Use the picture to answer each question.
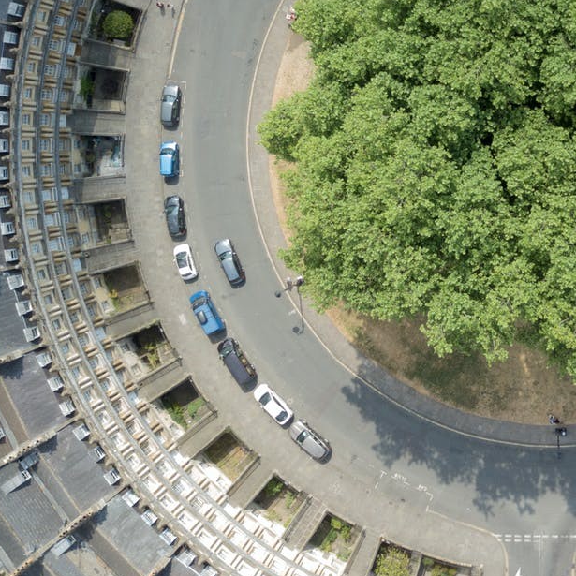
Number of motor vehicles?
9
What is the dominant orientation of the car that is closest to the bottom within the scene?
diagonally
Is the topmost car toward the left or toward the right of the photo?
left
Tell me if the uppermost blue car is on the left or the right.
left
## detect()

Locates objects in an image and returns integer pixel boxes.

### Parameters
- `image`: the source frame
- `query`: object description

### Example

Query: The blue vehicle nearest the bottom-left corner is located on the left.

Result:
[190,290,225,337]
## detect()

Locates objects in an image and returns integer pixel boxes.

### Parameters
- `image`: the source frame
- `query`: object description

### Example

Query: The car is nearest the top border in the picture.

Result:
[159,82,183,126]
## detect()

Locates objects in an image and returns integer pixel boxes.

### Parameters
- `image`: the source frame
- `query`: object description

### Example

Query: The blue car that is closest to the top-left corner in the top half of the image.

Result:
[157,140,180,179]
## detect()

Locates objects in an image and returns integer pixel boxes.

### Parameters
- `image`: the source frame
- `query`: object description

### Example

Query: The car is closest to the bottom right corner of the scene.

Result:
[290,420,334,460]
